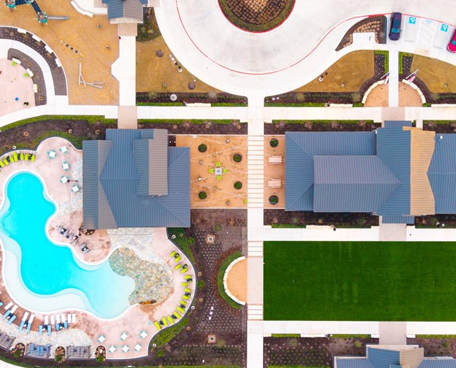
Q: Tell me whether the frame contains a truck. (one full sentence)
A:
No, the scene contains no truck.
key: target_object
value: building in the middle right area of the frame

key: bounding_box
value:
[285,119,456,224]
